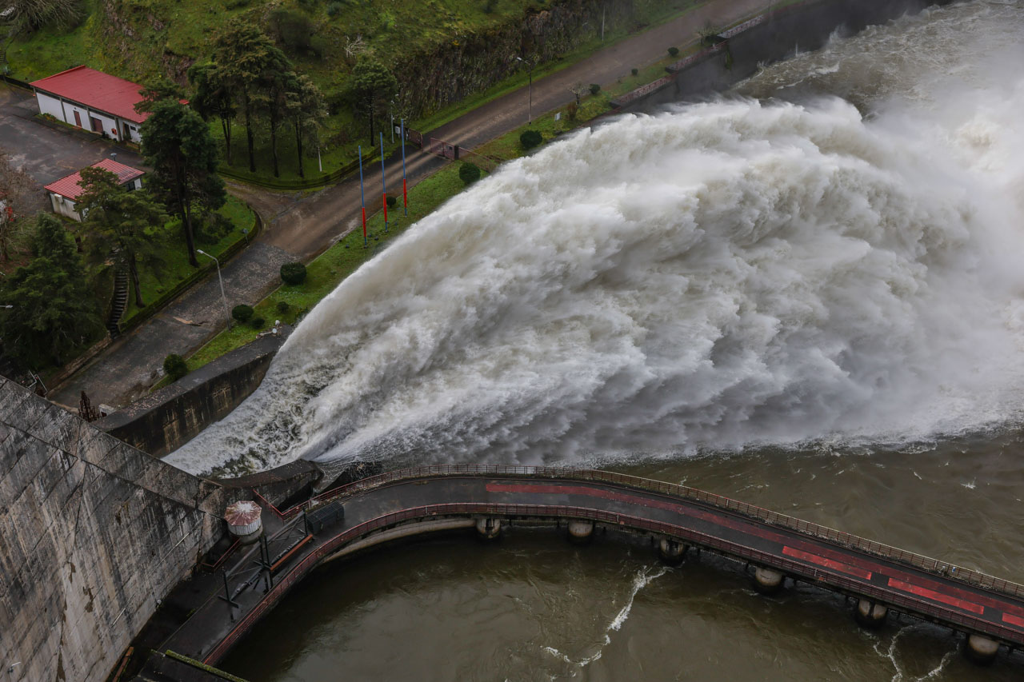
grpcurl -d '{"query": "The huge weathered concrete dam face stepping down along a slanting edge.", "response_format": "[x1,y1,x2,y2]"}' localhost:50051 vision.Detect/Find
[0,373,231,682]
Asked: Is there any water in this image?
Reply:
Yes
